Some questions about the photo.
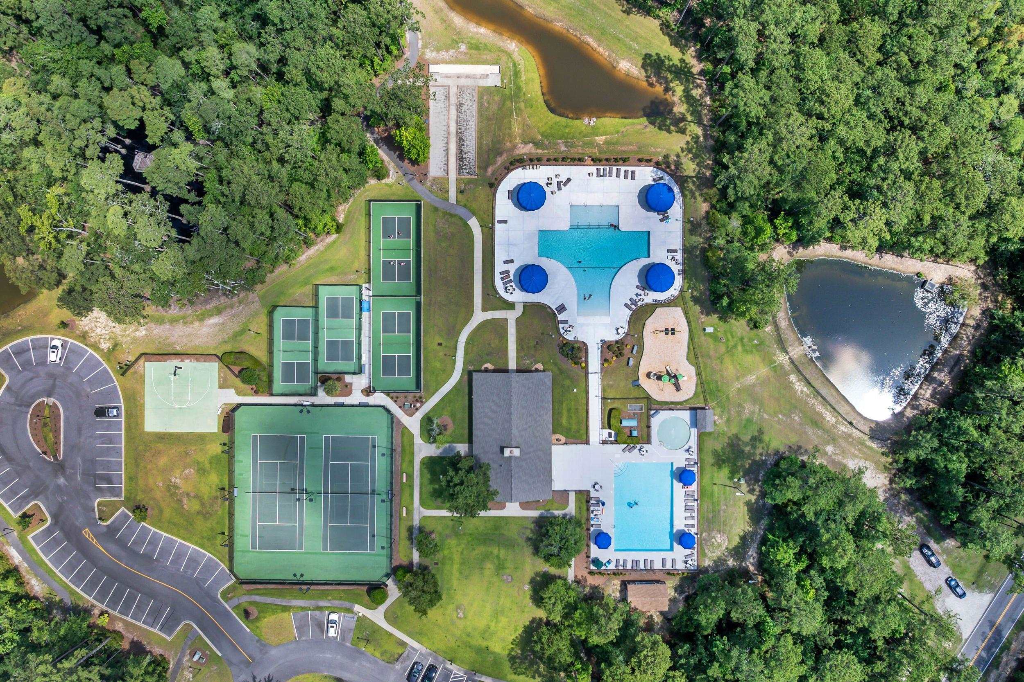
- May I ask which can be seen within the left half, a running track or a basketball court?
basketball court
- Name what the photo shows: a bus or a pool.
pool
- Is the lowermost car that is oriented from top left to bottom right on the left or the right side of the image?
right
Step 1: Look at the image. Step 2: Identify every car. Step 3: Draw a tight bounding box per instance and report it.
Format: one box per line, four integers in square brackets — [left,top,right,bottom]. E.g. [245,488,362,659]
[327,612,340,636]
[406,663,424,682]
[421,666,438,682]
[944,576,965,599]
[92,407,118,417]
[50,339,64,363]
[920,544,939,569]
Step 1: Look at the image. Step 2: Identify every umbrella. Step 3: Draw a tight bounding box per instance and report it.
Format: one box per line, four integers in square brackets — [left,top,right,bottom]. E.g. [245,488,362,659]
[592,558,604,570]
[679,470,695,485]
[645,183,675,212]
[645,263,674,292]
[595,533,611,549]
[679,533,695,549]
[517,182,546,211]
[519,264,548,294]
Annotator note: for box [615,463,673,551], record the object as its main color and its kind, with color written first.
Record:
blue swimming pool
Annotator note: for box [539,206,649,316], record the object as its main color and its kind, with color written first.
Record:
blue swimming pool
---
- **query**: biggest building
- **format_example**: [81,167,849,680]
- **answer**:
[472,373,552,503]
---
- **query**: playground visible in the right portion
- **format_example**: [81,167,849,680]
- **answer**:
[639,308,696,401]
